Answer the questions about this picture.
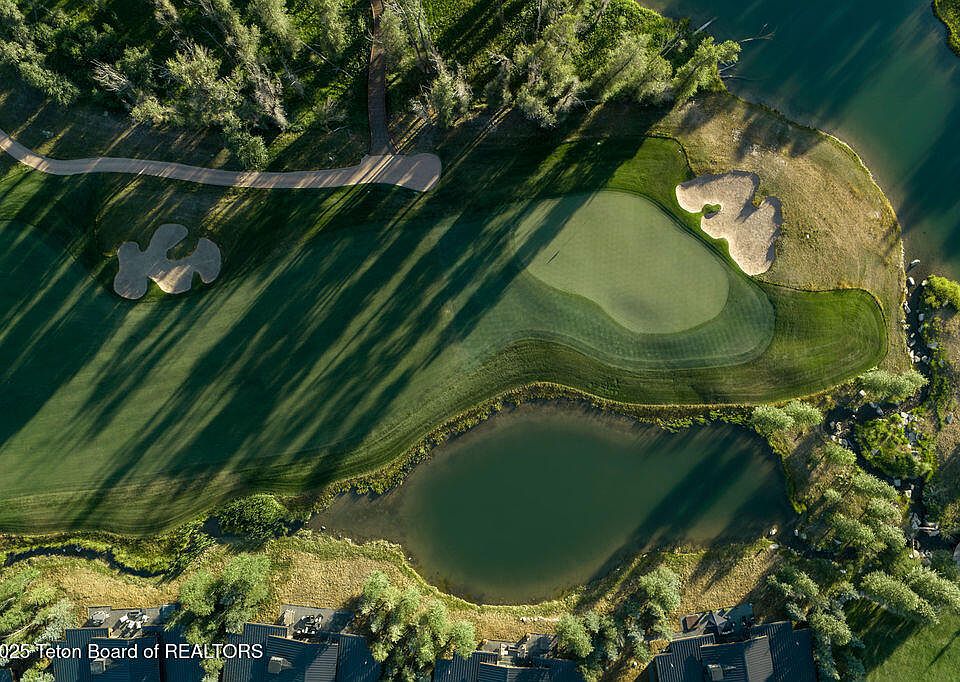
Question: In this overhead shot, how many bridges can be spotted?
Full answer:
The count of bridges is 0.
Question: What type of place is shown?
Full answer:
The picture captures a golf course.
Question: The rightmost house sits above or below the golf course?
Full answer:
Relative to the golf course, the rightmost house lies below it.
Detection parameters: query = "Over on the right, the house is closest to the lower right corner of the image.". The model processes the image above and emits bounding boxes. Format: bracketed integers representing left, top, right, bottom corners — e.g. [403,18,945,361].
[654,603,815,682]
